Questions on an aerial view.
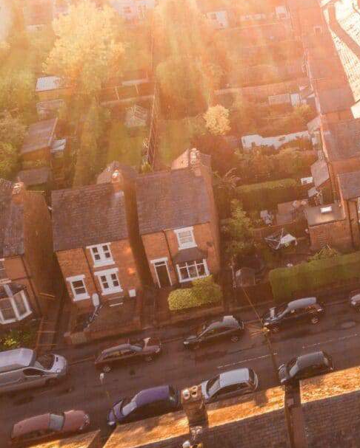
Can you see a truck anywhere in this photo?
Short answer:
No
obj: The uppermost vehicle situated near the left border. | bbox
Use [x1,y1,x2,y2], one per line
[0,346,63,392]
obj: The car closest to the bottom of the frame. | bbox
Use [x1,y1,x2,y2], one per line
[9,418,79,448]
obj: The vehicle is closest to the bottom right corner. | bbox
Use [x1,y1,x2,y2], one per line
[283,351,344,390]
